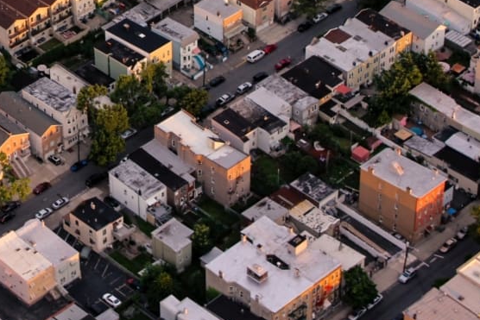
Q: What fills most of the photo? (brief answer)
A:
buildings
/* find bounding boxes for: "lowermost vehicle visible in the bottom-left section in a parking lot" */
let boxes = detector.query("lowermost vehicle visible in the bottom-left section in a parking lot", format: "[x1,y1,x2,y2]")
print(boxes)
[100,292,123,310]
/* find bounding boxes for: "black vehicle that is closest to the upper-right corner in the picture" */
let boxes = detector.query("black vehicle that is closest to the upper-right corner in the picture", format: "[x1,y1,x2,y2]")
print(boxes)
[322,1,341,13]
